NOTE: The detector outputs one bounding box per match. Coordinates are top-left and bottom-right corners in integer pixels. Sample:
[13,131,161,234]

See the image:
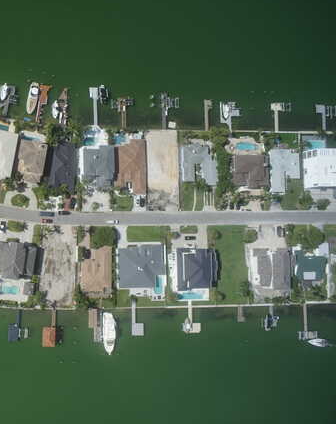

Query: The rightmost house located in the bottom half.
[294,250,327,289]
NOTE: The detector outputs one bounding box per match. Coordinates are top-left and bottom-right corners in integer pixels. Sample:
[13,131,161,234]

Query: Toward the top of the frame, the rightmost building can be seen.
[300,148,336,188]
